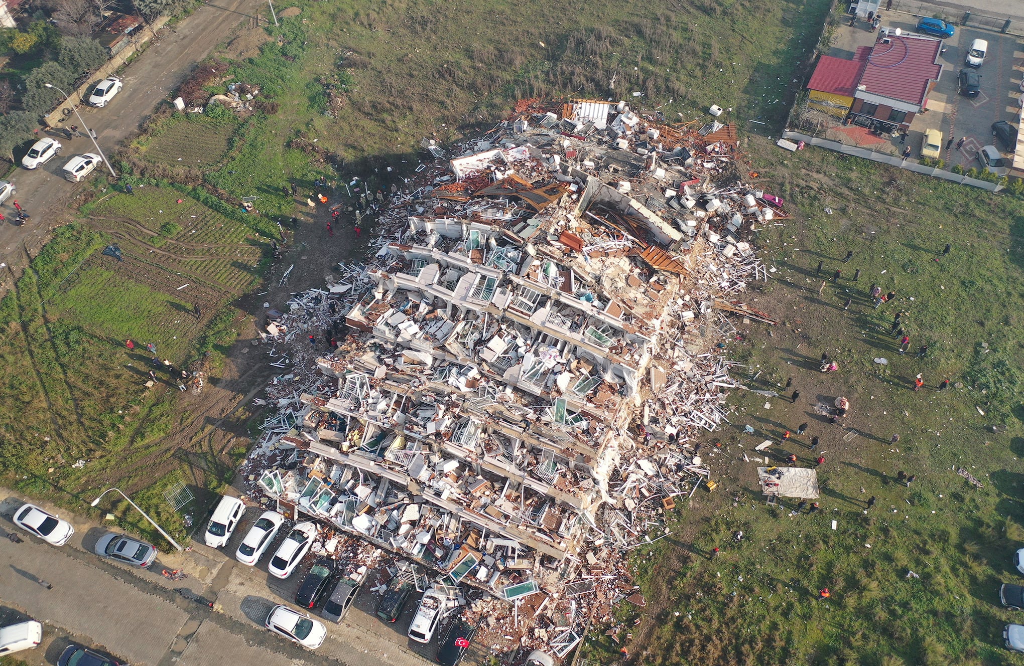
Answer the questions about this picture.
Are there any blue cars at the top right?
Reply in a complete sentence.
Yes, you'll find a blue car at the top right.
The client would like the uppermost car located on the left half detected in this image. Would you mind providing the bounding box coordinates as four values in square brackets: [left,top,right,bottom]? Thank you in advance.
[86,79,123,109]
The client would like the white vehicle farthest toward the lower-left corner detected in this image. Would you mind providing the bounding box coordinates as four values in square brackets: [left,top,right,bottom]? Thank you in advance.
[0,620,54,661]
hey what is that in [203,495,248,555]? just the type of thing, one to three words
car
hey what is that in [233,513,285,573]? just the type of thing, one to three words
car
